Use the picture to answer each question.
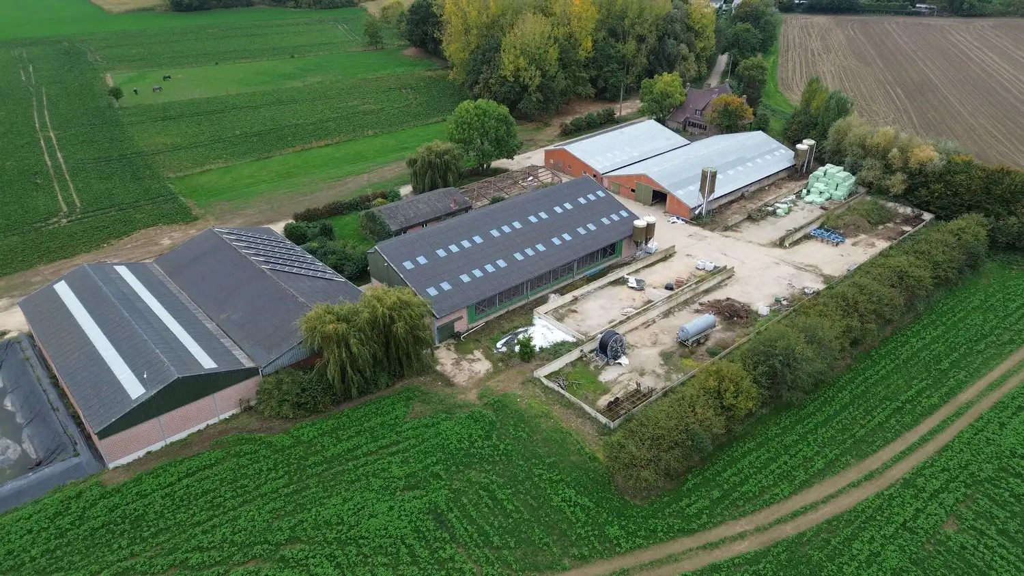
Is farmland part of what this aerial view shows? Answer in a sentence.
Yes, the picture does contain farmland.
